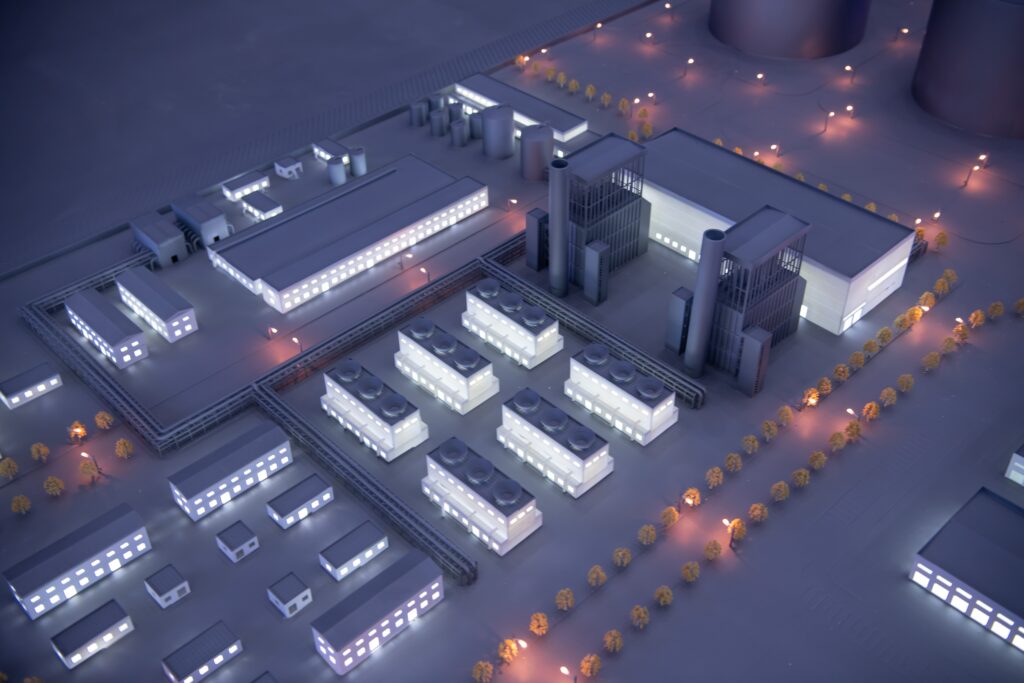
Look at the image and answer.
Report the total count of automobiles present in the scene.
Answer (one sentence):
The photo contains no automobiles.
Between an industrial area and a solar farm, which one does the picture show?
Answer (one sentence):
The area seen from above is an industrial area.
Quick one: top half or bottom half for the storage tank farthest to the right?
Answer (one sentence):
The storage tank farthest to the right is in the top half of the image.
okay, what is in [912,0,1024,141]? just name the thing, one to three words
storage tank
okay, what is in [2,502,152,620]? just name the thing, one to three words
building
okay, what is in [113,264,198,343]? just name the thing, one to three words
building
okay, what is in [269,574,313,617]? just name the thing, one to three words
shed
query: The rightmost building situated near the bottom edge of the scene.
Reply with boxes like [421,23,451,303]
[909,484,1024,650]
